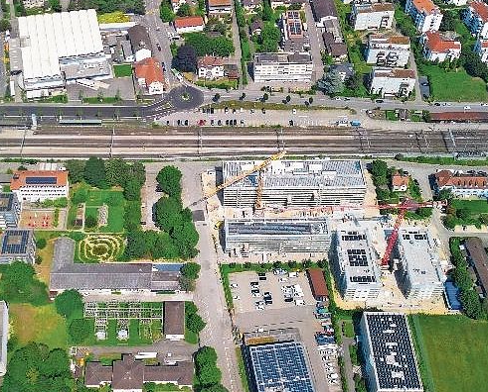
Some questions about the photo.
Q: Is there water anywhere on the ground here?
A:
No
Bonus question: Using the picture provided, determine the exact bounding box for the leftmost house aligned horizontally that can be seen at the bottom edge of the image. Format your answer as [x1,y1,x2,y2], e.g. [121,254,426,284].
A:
[84,352,195,392]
